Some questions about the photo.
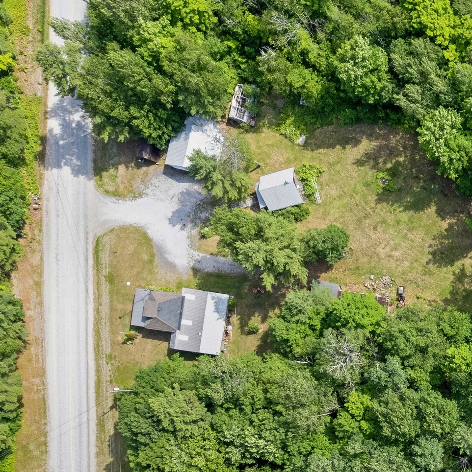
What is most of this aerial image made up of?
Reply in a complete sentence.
The scene is dominated by trees.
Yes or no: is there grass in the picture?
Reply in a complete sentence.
Yes, there is grass in the image.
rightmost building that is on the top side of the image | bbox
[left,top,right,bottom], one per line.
[255,168,305,210]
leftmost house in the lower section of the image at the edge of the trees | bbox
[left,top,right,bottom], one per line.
[131,288,234,356]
